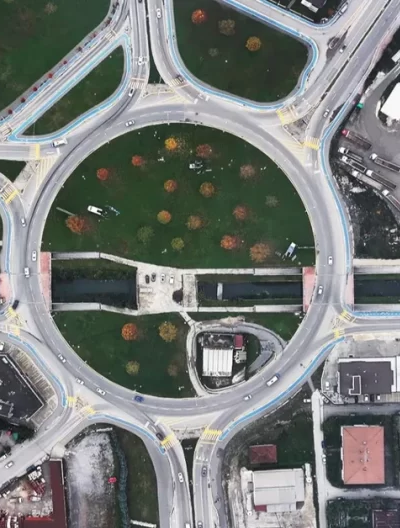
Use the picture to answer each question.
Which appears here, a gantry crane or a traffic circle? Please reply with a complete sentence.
The one in the frame is a traffic circle.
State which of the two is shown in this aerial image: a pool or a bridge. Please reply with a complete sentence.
The image shows a bridge.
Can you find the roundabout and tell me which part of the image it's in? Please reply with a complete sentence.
The roundabout is in the center part of the image.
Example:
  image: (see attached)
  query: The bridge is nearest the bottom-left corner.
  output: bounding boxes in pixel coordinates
[0,252,51,309]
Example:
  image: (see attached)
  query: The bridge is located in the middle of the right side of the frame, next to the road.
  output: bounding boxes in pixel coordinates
[302,266,353,311]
